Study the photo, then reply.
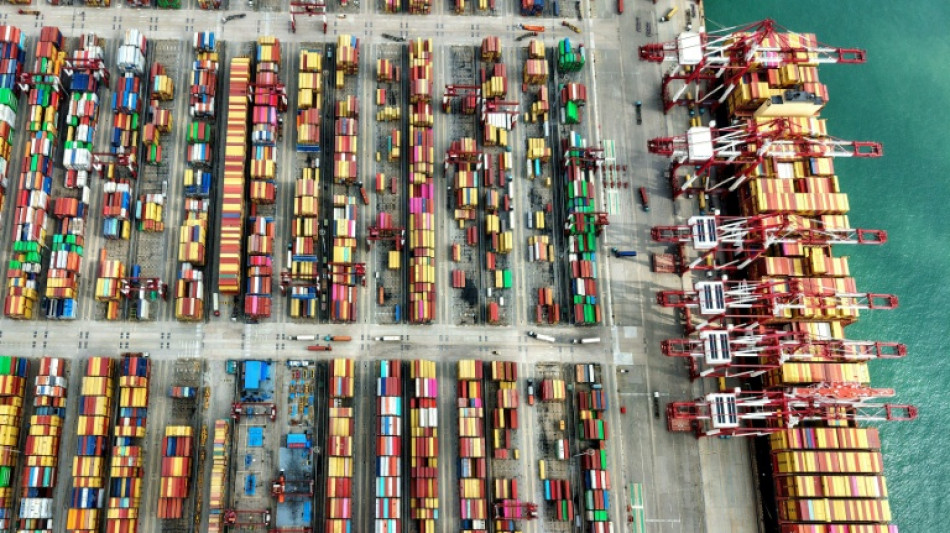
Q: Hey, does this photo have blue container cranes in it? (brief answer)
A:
No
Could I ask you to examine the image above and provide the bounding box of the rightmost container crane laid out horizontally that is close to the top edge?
[640,18,869,112]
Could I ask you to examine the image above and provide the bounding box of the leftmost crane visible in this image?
[18,72,68,100]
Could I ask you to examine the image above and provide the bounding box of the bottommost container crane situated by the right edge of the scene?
[663,378,917,444]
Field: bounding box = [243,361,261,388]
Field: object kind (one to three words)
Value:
shed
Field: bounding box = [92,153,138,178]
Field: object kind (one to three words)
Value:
container crane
